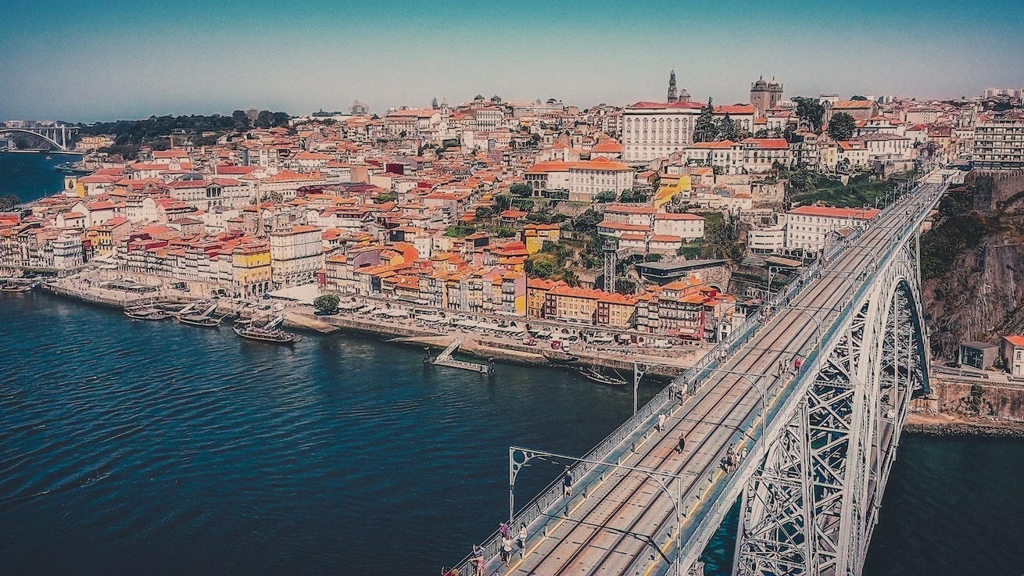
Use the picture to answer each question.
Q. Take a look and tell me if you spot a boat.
Yes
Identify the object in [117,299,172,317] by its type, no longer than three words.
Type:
boat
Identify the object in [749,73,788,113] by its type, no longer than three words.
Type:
building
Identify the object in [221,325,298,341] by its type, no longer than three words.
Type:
boat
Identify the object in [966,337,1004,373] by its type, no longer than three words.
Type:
building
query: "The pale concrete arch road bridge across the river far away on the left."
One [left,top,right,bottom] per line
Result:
[0,123,82,151]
